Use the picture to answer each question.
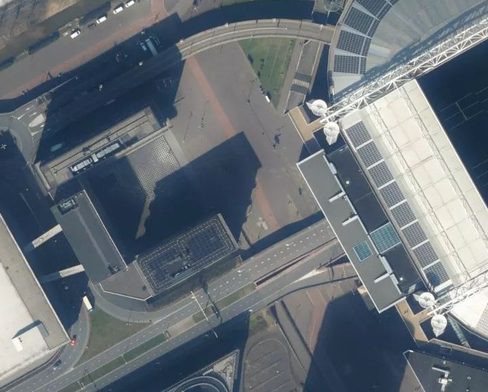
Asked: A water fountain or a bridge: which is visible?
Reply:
bridge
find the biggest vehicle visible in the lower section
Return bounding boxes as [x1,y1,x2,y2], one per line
[82,292,95,315]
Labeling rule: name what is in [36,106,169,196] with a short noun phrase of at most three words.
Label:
building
